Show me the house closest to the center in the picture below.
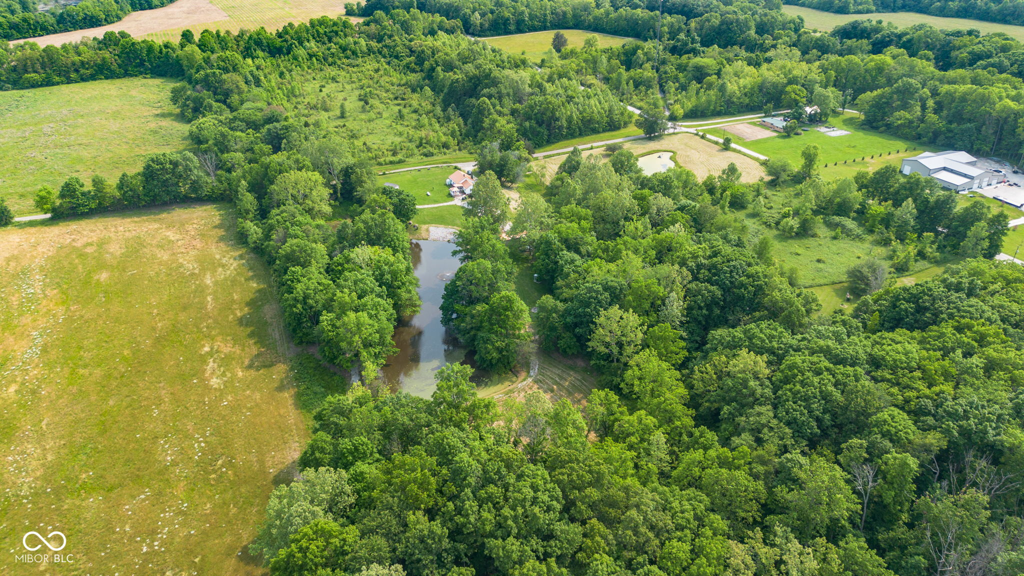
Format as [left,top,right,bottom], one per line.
[447,169,477,200]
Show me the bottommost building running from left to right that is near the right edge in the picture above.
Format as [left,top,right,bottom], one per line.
[900,149,1006,193]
